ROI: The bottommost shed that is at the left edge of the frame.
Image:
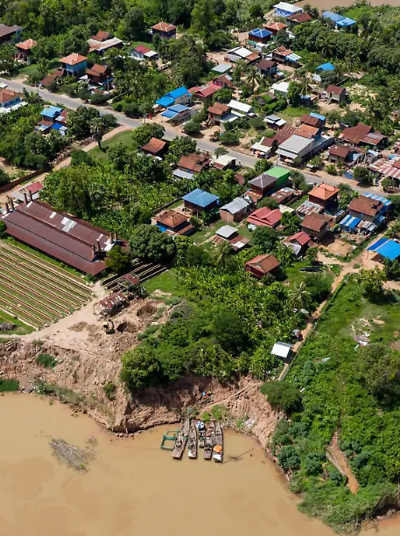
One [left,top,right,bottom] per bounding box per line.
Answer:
[2,185,130,280]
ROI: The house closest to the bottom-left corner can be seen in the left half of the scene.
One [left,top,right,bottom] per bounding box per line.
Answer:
[92,289,126,317]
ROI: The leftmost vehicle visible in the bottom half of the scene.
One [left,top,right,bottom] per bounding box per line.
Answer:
[104,314,119,332]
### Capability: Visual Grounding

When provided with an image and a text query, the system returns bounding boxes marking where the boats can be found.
[174,416,191,459]
[205,421,215,459]
[189,419,196,458]
[214,422,224,462]
[196,420,204,448]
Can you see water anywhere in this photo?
Yes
